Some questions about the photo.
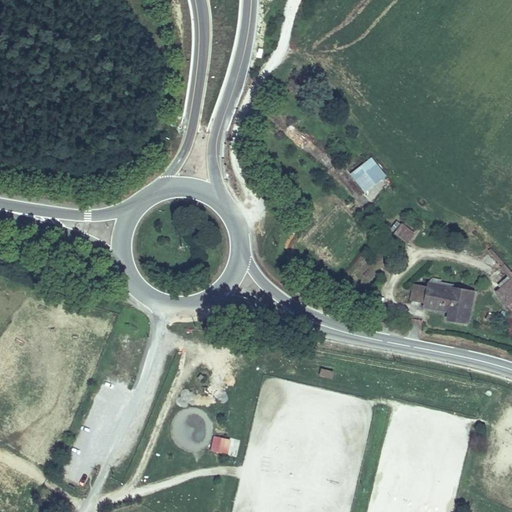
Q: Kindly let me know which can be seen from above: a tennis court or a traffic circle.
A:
traffic circle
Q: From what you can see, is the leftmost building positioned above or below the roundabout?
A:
below it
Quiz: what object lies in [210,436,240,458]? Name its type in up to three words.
building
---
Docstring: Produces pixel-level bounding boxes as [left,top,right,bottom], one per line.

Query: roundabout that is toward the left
[59,118,278,317]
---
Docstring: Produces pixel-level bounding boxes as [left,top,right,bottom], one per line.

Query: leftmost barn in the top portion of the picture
[351,157,388,201]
